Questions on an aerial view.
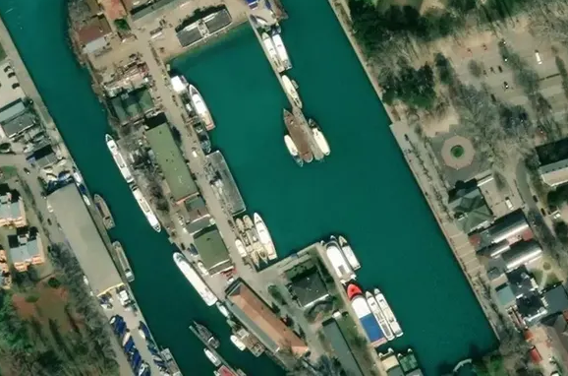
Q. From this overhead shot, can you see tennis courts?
No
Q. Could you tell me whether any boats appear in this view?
Yes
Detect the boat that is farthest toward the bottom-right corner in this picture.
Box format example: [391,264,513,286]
[397,347,424,376]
